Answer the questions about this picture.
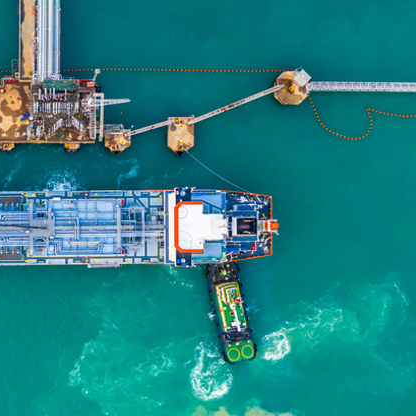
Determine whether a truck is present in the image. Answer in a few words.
No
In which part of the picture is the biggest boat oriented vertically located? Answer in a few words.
bottom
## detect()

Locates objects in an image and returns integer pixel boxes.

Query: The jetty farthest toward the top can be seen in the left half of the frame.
[20,0,63,80]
